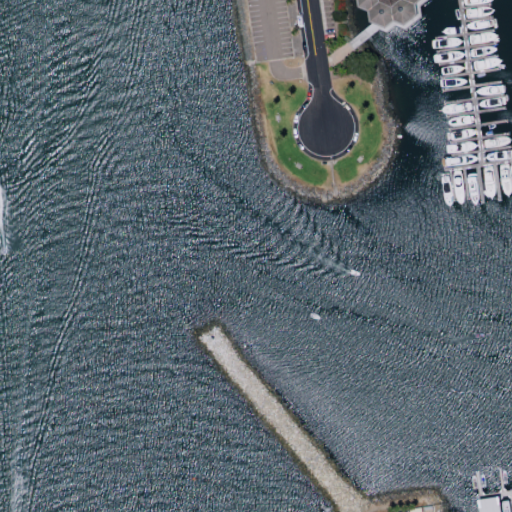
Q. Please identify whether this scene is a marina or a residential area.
marina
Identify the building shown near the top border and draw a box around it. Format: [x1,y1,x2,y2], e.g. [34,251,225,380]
[355,0,428,33]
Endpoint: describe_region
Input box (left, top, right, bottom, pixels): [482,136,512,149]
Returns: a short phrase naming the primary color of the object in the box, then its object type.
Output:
white boat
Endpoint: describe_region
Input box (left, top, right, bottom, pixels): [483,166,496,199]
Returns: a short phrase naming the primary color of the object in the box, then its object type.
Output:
white boat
